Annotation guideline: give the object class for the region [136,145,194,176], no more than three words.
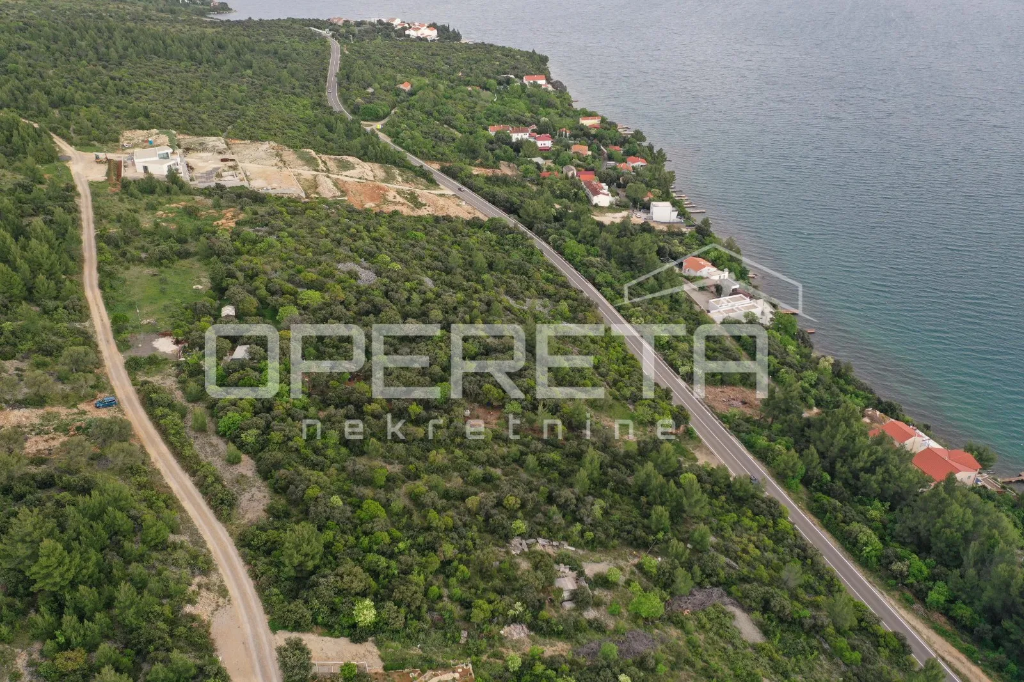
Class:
house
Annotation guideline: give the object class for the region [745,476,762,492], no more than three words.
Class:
car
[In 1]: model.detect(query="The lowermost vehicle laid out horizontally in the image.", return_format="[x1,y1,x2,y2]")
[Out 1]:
[91,394,119,408]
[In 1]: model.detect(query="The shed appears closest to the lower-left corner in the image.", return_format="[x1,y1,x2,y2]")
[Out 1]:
[230,342,254,365]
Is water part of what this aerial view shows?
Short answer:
Yes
